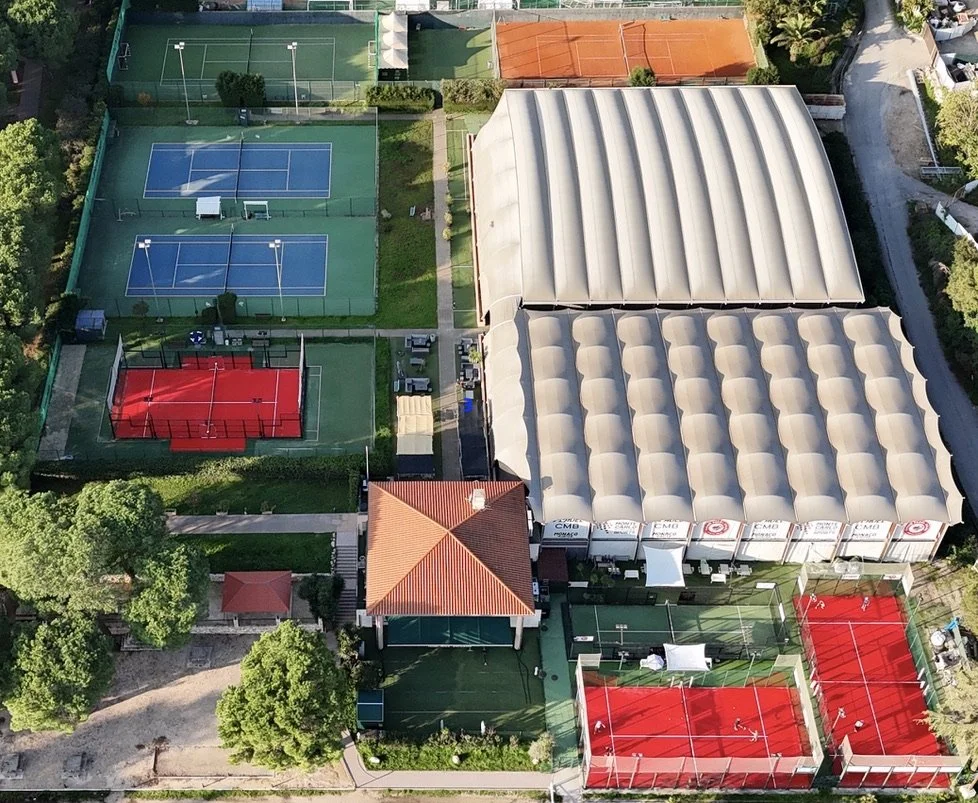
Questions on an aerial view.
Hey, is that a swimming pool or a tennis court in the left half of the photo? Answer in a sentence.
Looking in the left half of the photo, you will find a tennis court.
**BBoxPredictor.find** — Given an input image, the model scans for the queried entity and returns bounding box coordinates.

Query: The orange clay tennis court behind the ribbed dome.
[497,21,755,80]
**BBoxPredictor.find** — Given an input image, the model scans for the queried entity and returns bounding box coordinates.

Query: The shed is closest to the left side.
[73,312,108,340]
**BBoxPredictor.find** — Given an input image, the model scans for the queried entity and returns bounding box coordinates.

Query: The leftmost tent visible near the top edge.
[381,1,414,79]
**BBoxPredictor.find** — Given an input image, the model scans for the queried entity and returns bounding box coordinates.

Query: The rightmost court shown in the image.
[796,564,972,797]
